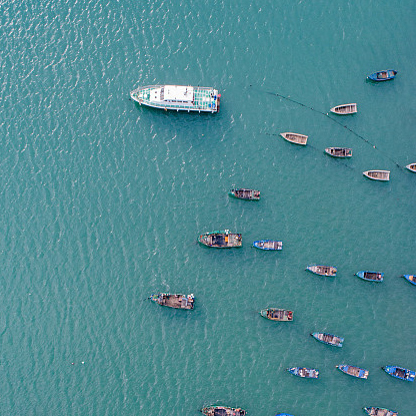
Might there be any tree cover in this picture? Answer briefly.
No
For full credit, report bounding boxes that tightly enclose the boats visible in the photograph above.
[251,240,282,251]
[146,291,195,310]
[380,366,416,381]
[325,147,353,158]
[197,231,242,248]
[353,270,384,282]
[255,307,293,321]
[303,265,337,276]
[398,275,416,286]
[363,170,390,181]
[285,366,319,378]
[365,70,397,81]
[308,332,344,346]
[328,104,357,116]
[332,364,368,379]
[230,188,260,201]
[406,163,416,173]
[360,407,398,416]
[280,132,308,145]
[203,406,246,416]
